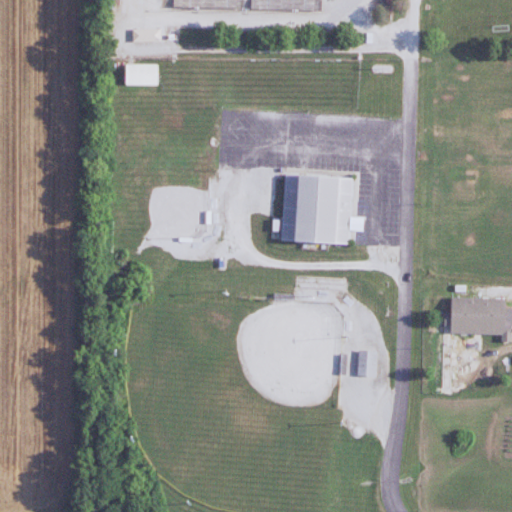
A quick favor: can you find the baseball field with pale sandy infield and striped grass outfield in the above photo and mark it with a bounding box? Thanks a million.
[126,296,344,512]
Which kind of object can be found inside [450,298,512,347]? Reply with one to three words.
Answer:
house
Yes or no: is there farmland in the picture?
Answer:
Yes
